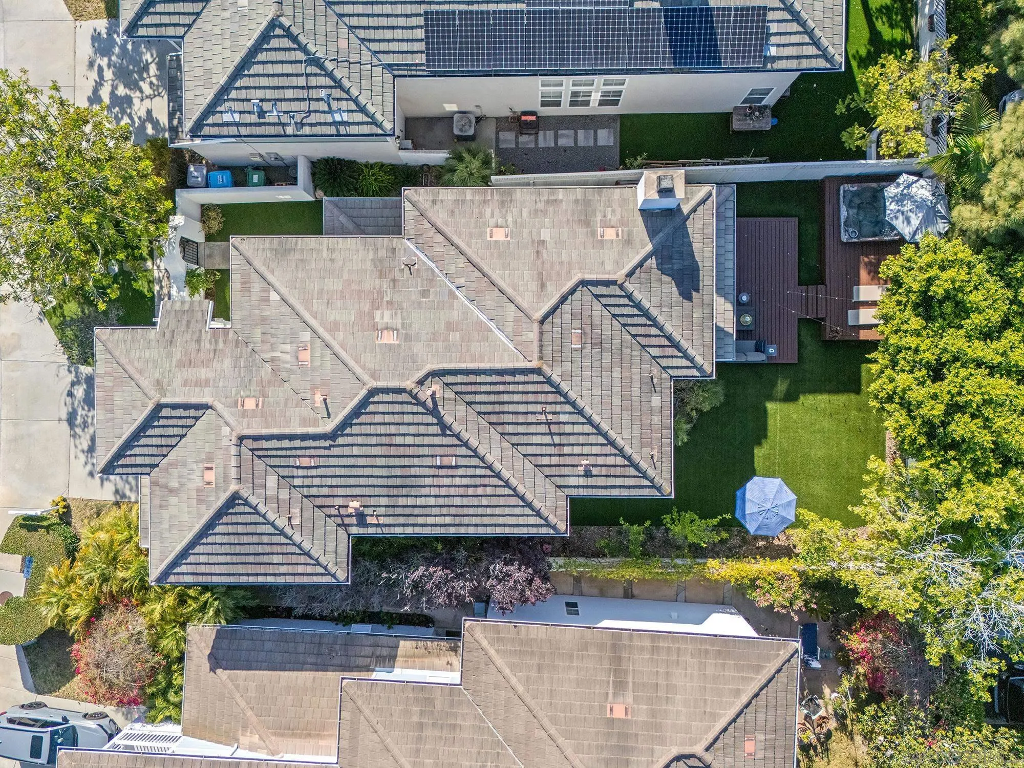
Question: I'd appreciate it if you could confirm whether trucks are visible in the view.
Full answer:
No, there's no truck here.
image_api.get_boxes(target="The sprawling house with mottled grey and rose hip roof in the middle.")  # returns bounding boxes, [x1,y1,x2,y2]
[95,171,736,584]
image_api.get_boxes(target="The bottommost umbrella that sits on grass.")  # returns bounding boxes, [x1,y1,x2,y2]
[734,476,794,535]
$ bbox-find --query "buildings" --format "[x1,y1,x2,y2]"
[49,599,799,768]
[119,0,844,164]
[95,171,736,584]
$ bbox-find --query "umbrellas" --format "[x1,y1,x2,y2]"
[734,476,794,535]
[881,170,956,245]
